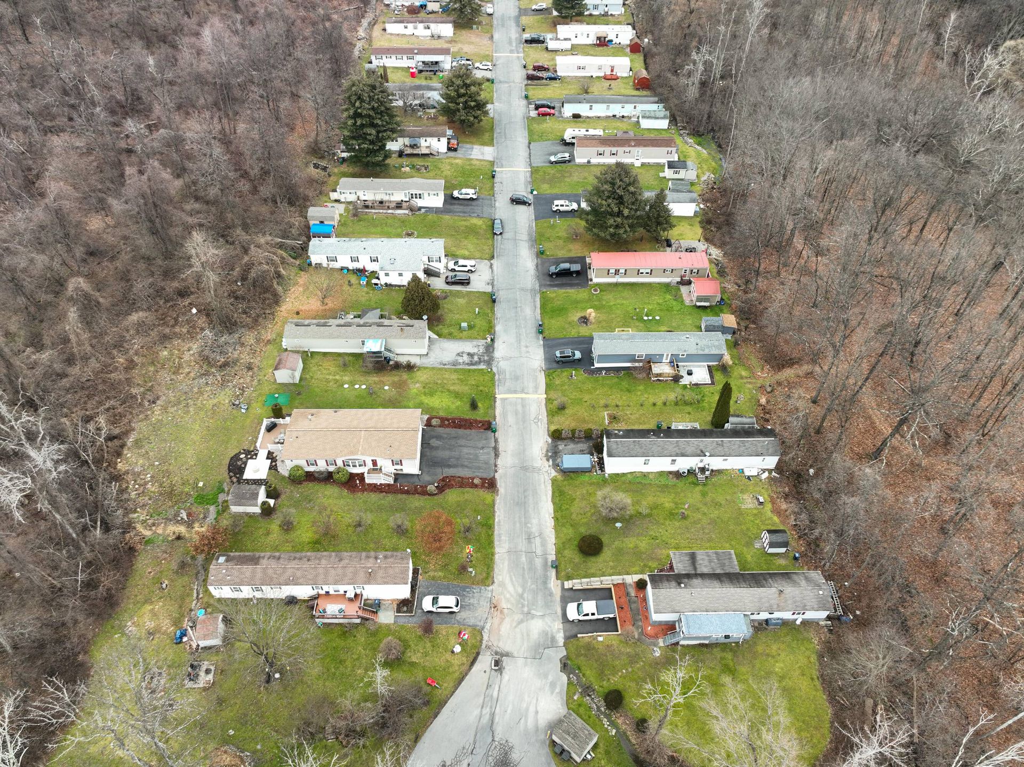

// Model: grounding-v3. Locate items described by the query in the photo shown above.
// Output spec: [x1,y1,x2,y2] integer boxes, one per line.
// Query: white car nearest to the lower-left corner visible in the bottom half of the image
[422,593,461,613]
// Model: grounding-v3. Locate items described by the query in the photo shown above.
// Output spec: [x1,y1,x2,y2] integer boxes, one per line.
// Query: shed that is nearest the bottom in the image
[552,709,600,764]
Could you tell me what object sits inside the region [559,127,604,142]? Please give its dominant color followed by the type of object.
white vehicle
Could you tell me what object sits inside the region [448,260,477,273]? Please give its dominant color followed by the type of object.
white vehicle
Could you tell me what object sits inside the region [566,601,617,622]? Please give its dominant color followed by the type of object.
white truck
